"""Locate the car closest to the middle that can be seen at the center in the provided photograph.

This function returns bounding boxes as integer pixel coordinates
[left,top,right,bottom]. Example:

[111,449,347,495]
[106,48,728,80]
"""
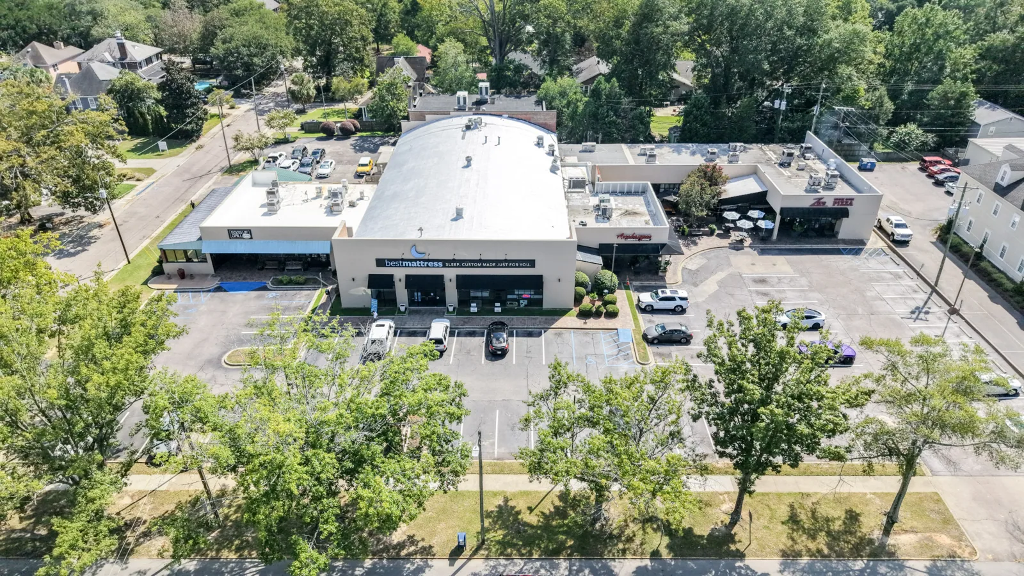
[485,323,509,357]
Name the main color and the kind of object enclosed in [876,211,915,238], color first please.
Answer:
white truck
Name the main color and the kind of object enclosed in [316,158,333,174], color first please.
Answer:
white car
